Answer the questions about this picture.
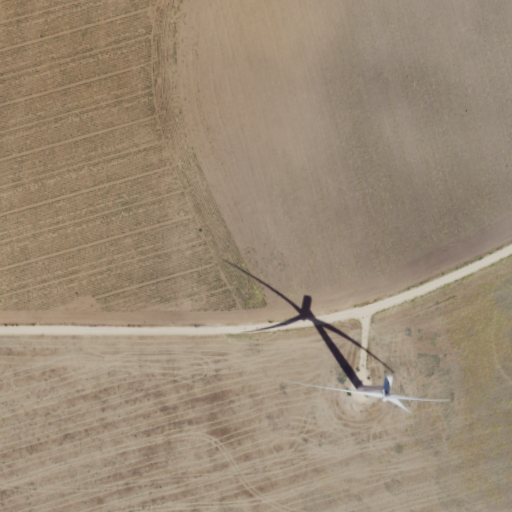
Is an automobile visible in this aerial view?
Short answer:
No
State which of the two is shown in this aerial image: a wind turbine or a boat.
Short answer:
wind turbine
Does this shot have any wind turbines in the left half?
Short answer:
No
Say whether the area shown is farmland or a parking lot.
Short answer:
farmland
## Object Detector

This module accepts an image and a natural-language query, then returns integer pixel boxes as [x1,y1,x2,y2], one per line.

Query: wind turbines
[289,374,444,418]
